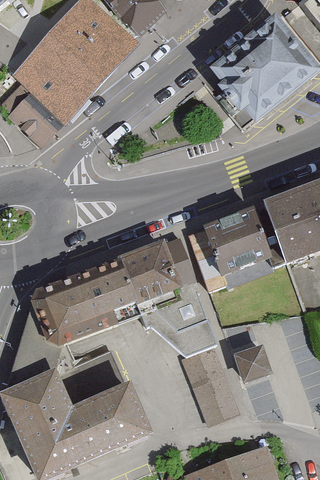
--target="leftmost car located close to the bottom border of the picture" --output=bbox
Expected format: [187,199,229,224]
[289,461,304,480]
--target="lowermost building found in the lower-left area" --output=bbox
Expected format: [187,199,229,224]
[0,368,154,480]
